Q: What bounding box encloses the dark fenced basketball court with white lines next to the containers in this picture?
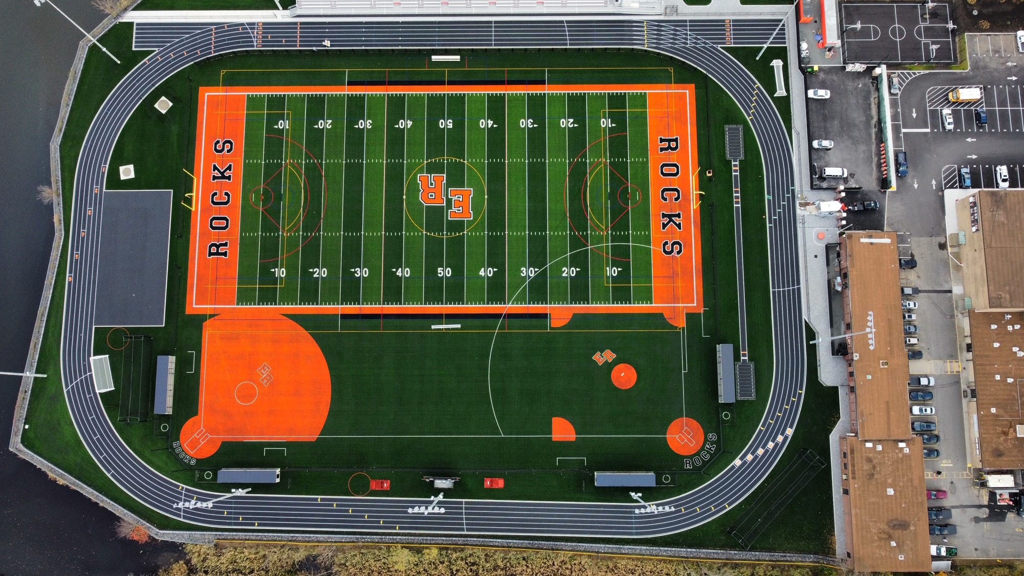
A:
[843,0,958,65]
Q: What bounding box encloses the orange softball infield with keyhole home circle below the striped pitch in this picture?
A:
[161,309,670,480]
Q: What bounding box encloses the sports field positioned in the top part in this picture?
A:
[186,57,703,332]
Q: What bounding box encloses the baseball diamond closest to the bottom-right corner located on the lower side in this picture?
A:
[488,243,730,483]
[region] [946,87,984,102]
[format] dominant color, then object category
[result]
white vehicle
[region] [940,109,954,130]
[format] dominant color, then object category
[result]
white car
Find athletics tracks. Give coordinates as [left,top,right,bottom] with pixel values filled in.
[60,19,807,539]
